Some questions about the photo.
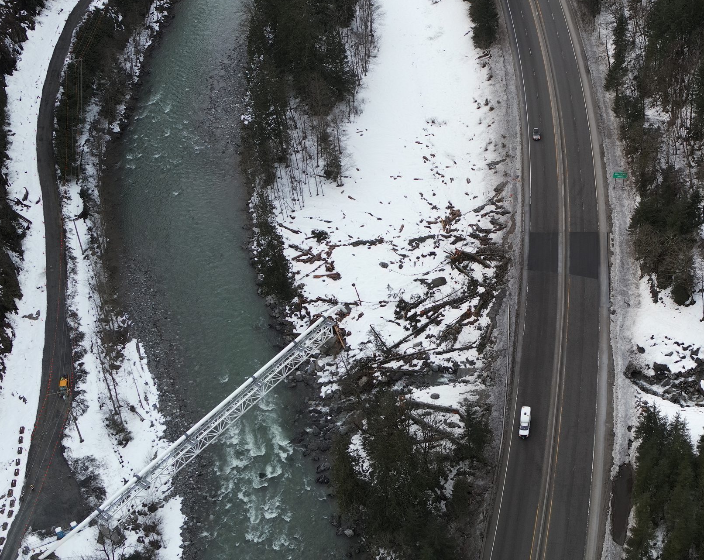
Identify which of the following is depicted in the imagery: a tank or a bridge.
bridge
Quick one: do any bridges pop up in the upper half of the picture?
No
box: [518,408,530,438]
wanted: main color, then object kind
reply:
white vehicle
